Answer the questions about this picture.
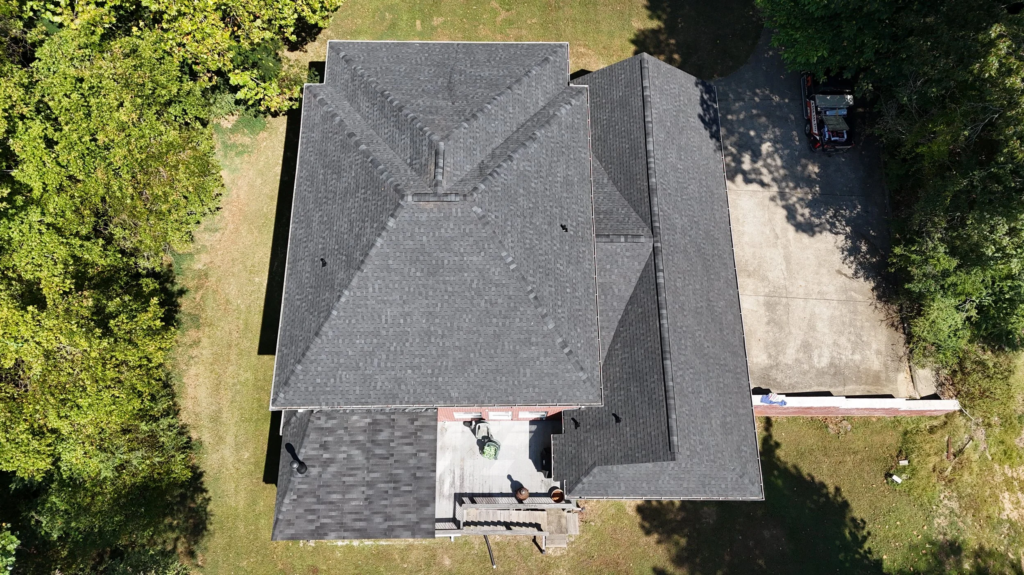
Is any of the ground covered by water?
No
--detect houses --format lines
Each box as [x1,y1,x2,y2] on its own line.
[269,40,764,542]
